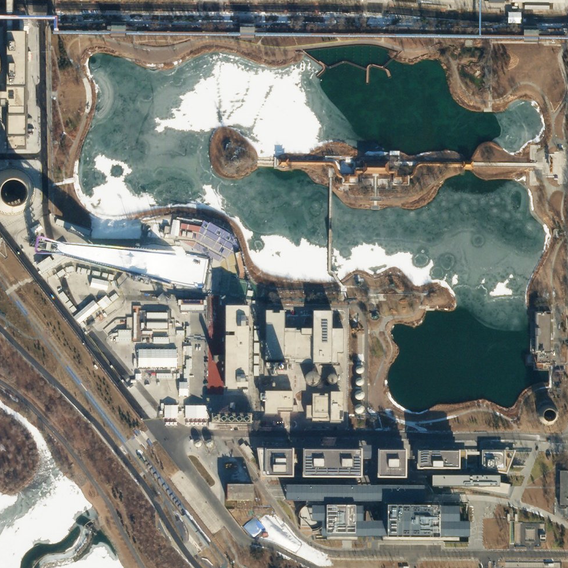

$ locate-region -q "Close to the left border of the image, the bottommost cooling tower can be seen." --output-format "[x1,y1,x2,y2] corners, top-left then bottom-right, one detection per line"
[0,166,36,215]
